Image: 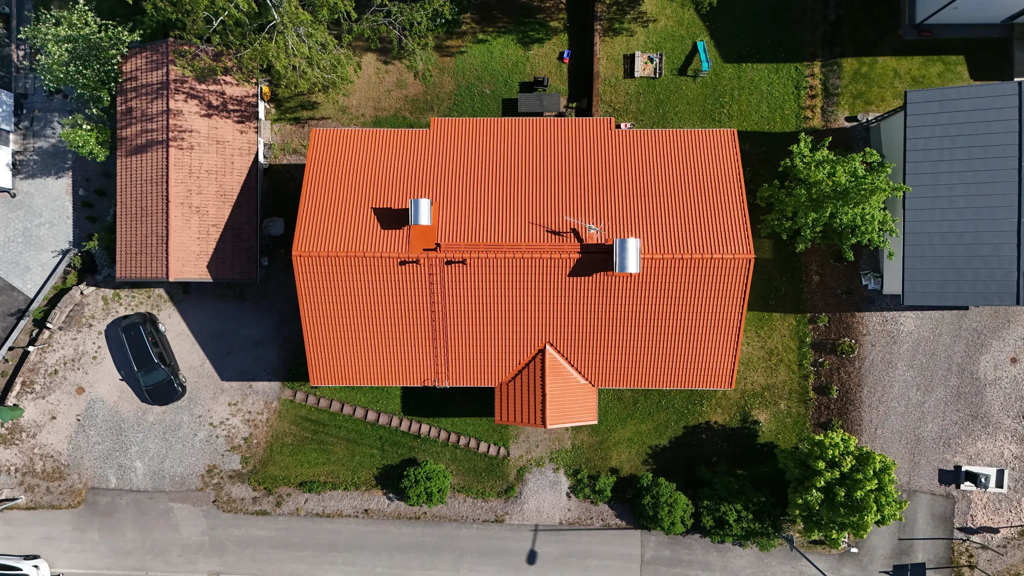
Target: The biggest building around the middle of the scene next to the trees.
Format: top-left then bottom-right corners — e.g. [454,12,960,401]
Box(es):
[290,113,758,429]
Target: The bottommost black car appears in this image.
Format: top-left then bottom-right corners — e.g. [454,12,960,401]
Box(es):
[117,311,188,406]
